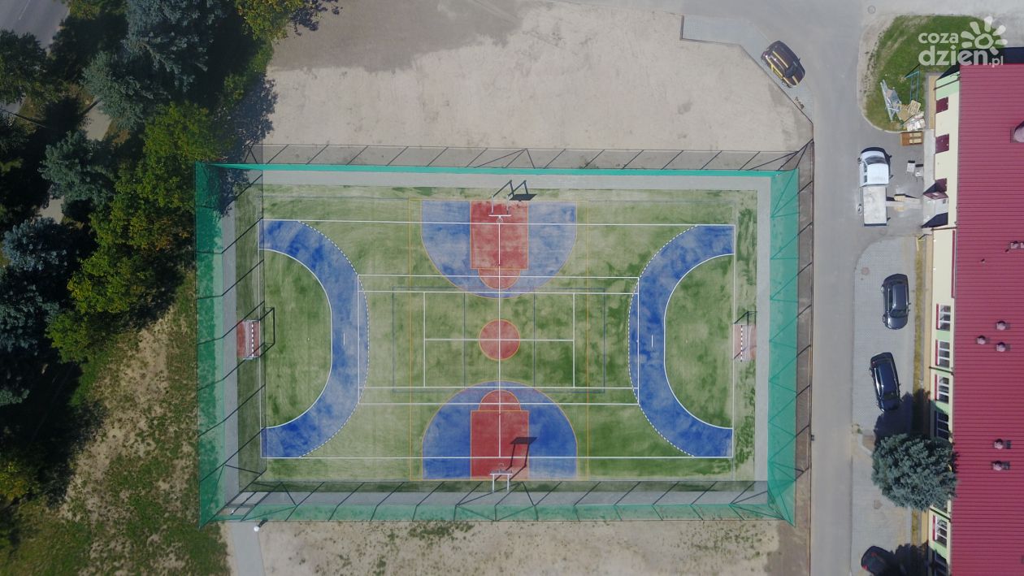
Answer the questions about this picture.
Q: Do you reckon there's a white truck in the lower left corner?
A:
No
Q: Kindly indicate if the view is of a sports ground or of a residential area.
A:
sports ground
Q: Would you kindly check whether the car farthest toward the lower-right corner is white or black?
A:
black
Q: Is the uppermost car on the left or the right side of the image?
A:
right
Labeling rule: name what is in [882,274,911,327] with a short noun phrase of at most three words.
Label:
car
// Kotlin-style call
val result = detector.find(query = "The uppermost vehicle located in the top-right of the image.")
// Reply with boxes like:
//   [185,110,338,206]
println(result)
[761,43,801,88]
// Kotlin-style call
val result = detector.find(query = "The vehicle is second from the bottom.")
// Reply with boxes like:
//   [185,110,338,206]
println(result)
[868,353,900,409]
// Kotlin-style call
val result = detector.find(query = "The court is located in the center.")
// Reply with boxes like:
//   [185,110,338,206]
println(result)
[222,171,771,505]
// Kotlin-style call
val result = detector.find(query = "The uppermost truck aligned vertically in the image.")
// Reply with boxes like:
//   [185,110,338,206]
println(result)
[858,150,889,224]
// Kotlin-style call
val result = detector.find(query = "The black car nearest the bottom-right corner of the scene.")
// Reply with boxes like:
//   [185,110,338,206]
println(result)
[860,549,905,576]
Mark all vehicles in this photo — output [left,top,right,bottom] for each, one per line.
[860,549,905,576]
[868,353,900,409]
[761,43,801,88]
[882,274,911,327]
[858,150,889,224]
